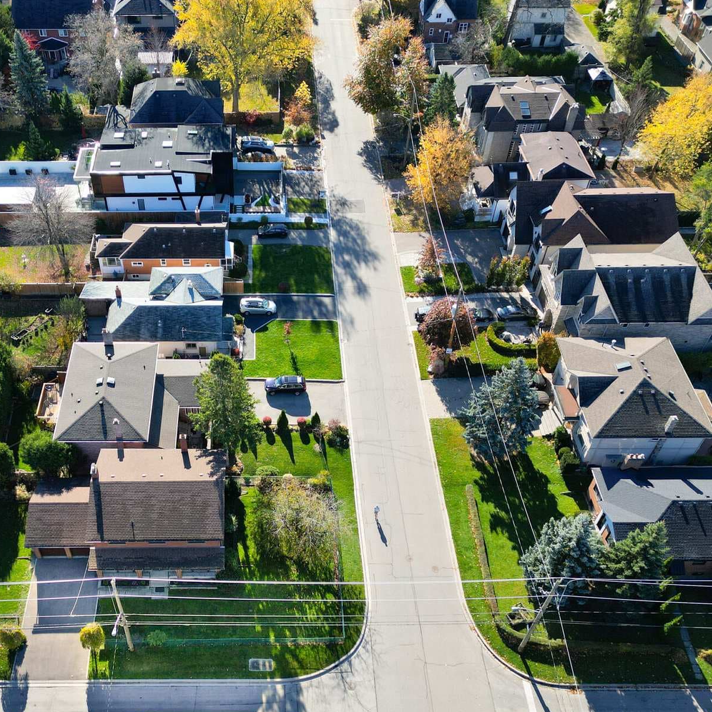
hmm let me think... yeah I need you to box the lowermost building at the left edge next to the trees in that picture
[24,429,228,583]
